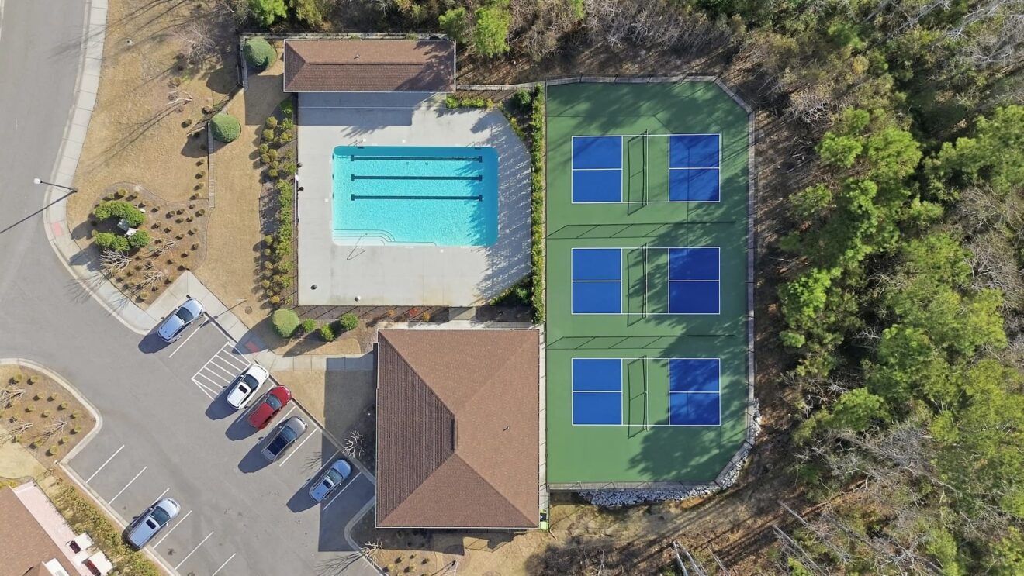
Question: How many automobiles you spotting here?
6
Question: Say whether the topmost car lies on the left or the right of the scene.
left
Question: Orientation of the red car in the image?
on a diagonal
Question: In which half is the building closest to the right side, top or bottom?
bottom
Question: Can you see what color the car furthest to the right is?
blue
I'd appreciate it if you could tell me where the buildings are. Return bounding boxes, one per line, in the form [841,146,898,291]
[285,40,456,94]
[374,329,539,528]
[0,481,111,576]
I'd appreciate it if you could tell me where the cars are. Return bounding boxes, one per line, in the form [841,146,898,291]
[248,387,292,430]
[156,297,205,344]
[308,458,353,504]
[224,364,270,410]
[262,417,308,462]
[124,496,181,552]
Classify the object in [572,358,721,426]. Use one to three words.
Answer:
sports court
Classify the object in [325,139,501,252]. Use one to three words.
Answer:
swimming pool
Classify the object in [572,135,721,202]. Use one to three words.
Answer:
sports court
